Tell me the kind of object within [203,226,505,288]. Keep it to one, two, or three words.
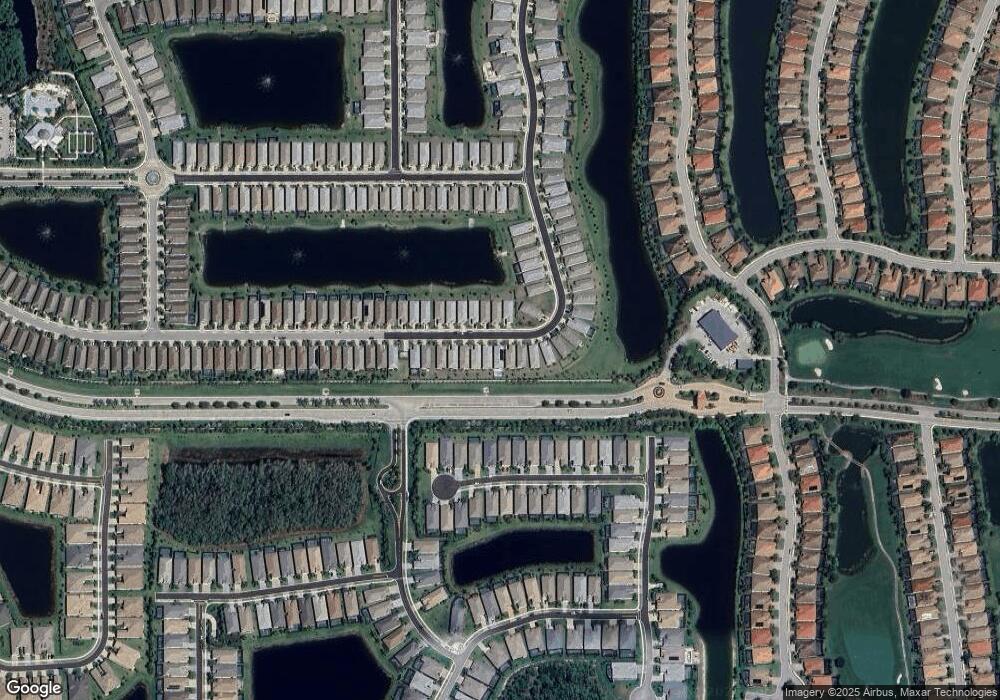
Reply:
pond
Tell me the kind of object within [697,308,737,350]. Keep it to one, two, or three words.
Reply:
building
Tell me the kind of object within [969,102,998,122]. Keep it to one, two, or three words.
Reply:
house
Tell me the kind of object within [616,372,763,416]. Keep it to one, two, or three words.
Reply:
roundabout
